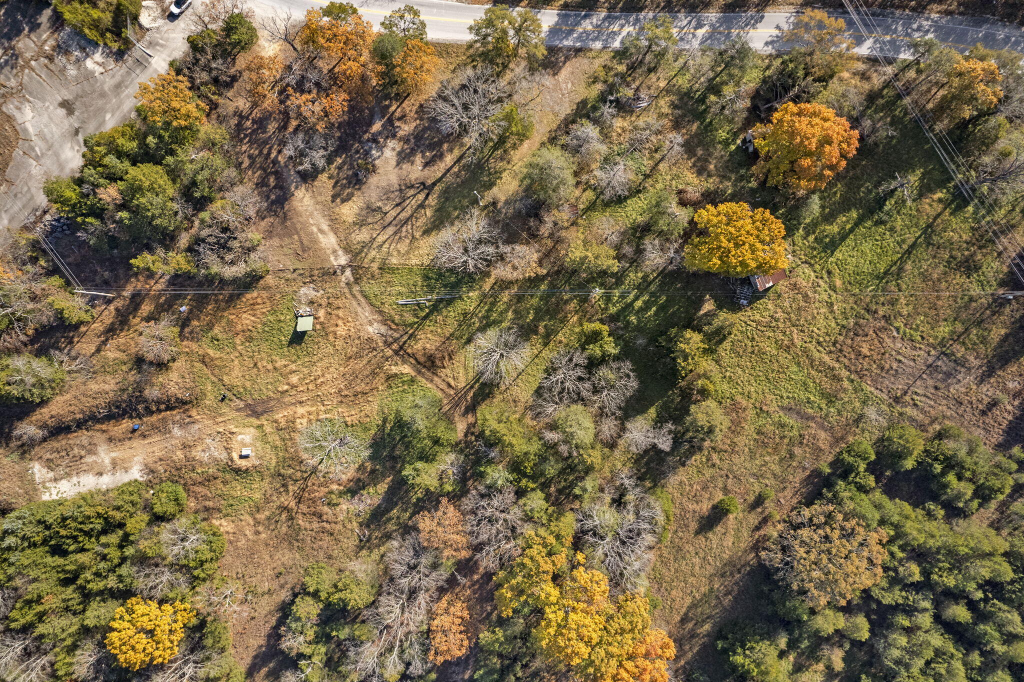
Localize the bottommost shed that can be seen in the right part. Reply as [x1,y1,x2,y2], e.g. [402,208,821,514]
[746,266,787,293]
